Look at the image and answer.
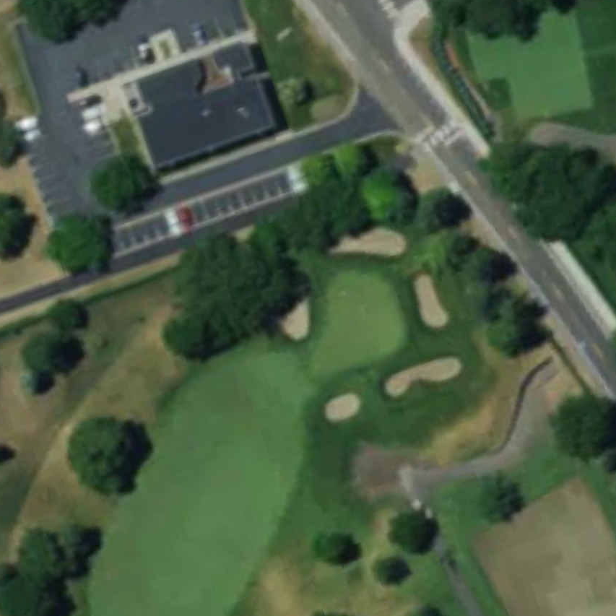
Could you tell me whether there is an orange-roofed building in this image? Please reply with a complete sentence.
No, there's no orange-roofed building here.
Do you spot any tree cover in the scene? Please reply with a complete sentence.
Yes, there is tree cover in the image.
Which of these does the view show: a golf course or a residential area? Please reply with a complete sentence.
This image shows a golf course.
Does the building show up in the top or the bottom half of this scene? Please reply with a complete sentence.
The top half of the photo is where the building is.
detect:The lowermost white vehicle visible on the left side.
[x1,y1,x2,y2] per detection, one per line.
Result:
[166,209,181,235]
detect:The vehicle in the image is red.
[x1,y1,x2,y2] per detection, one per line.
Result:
[178,205,191,228]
